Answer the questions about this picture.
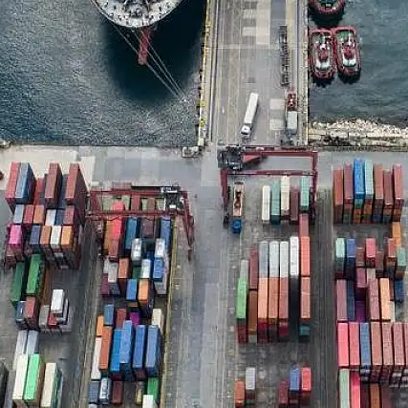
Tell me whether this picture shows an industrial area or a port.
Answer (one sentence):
This image shows a port.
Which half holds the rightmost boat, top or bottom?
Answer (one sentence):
The rightmost boat sits in the top half of the picture.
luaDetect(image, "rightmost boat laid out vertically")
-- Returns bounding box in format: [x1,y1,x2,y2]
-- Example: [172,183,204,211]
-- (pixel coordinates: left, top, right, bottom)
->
[334,25,363,84]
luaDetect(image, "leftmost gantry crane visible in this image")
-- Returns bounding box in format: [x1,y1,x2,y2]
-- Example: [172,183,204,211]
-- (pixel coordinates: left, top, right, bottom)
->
[82,188,193,265]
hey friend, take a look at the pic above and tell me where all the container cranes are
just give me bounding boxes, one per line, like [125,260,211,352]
[82,188,193,265]
[216,149,320,228]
